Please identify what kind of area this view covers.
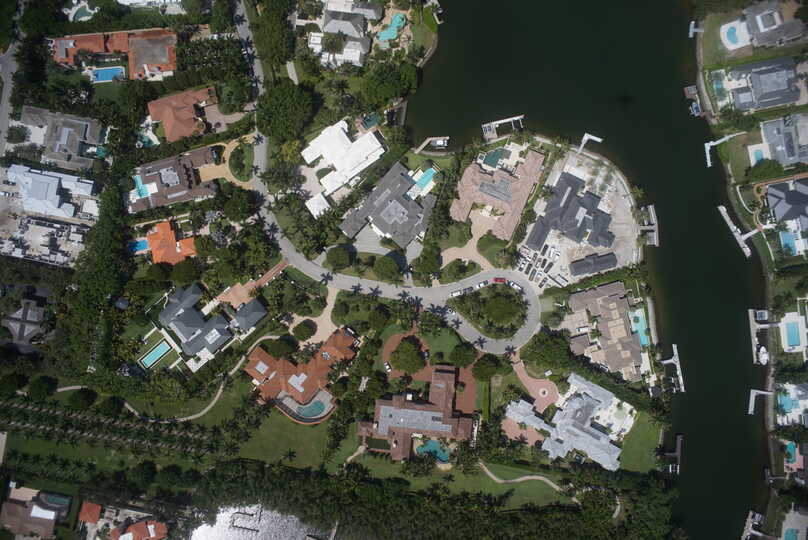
residential area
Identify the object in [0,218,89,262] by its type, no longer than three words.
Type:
house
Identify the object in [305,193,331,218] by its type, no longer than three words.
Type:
building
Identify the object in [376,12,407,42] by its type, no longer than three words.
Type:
swimming pool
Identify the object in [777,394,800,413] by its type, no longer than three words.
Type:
swimming pool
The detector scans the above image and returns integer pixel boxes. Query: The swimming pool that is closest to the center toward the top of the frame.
[416,167,438,189]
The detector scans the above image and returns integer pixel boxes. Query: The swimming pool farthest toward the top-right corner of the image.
[726,25,739,44]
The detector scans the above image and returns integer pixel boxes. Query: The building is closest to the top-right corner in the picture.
[741,0,803,48]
